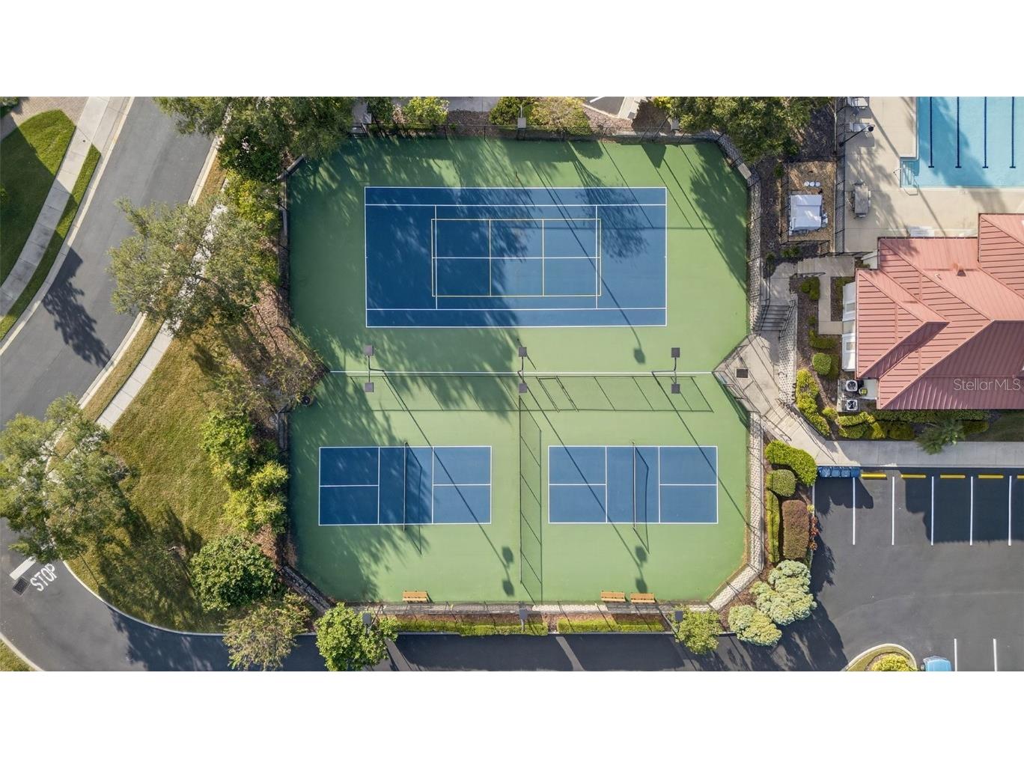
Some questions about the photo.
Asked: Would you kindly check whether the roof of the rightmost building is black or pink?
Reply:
pink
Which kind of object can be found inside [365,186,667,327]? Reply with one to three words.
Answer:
tennis court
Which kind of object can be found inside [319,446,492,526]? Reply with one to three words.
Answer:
sports court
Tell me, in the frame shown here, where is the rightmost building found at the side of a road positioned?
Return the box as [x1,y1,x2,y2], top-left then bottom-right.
[834,213,1024,416]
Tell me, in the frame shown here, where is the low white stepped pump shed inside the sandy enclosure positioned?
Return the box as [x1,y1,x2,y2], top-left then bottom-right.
[787,193,823,236]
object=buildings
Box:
[787,193,823,236]
[834,213,1024,416]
